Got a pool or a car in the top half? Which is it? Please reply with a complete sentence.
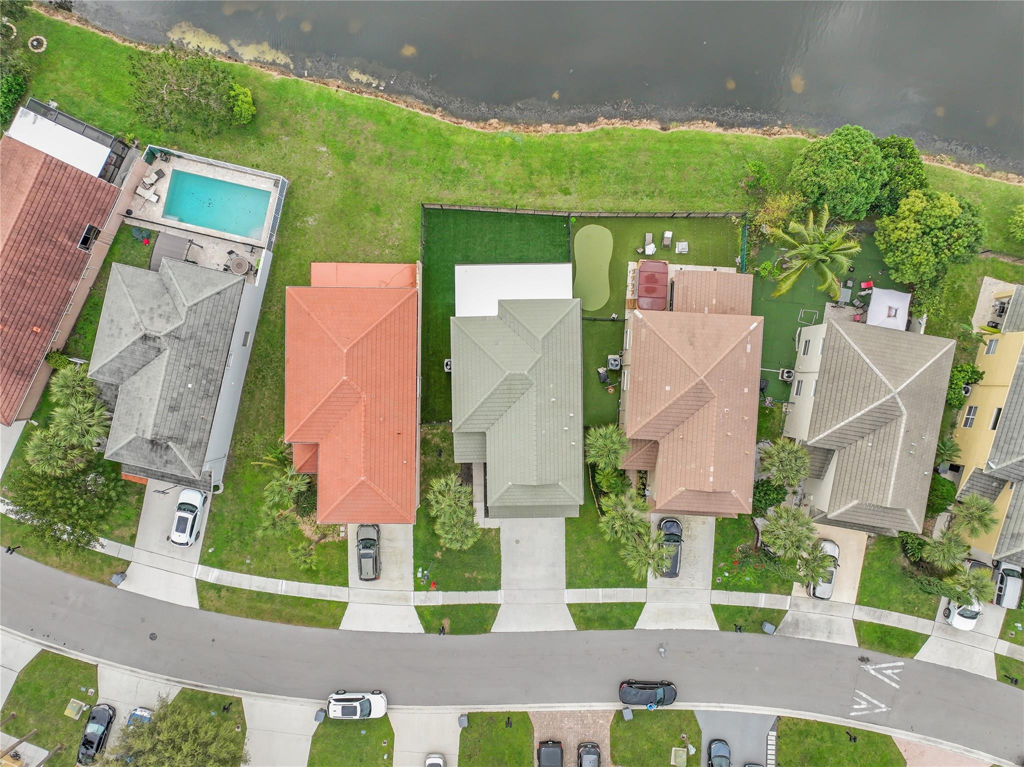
The feature located in the top half is a pool.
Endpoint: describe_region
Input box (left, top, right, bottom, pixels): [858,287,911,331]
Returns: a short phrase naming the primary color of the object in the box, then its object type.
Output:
white gazebo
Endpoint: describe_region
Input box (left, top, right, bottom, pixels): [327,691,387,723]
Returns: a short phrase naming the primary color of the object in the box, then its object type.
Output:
white car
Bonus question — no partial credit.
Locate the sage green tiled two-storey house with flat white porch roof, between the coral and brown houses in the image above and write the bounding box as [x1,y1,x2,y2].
[450,263,585,518]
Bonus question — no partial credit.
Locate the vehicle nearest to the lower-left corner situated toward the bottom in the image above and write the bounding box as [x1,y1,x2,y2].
[74,705,114,767]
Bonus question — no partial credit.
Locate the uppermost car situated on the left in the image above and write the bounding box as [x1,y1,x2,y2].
[169,488,206,547]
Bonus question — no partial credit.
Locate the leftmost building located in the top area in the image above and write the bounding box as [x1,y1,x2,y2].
[0,105,132,427]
